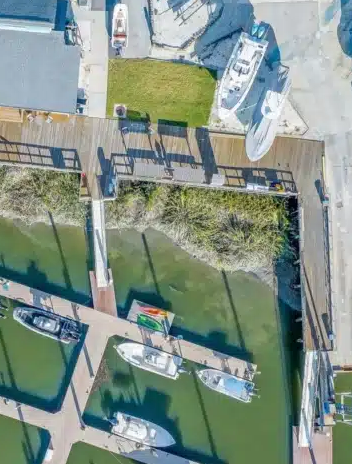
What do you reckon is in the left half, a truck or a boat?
boat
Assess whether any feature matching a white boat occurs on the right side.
Yes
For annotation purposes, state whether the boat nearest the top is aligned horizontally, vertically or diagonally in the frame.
vertically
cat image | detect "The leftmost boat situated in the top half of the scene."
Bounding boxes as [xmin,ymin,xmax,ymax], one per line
[108,3,131,58]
